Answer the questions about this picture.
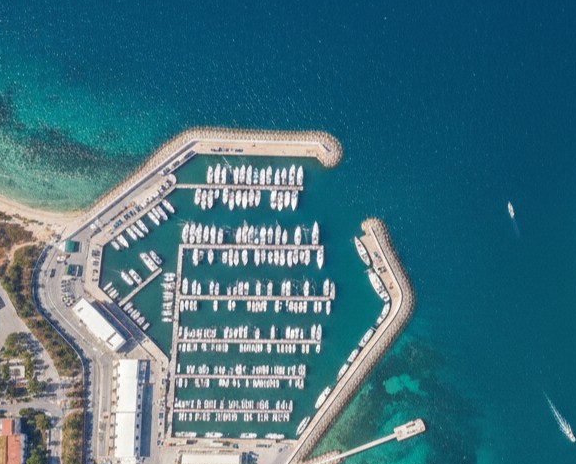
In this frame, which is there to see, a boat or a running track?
boat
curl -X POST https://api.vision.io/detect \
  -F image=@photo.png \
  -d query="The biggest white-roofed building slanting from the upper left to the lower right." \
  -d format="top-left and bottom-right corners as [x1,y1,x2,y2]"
[73,298,124,346]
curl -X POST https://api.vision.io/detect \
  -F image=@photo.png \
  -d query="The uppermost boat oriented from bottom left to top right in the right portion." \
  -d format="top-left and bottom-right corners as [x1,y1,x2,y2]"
[375,304,390,325]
